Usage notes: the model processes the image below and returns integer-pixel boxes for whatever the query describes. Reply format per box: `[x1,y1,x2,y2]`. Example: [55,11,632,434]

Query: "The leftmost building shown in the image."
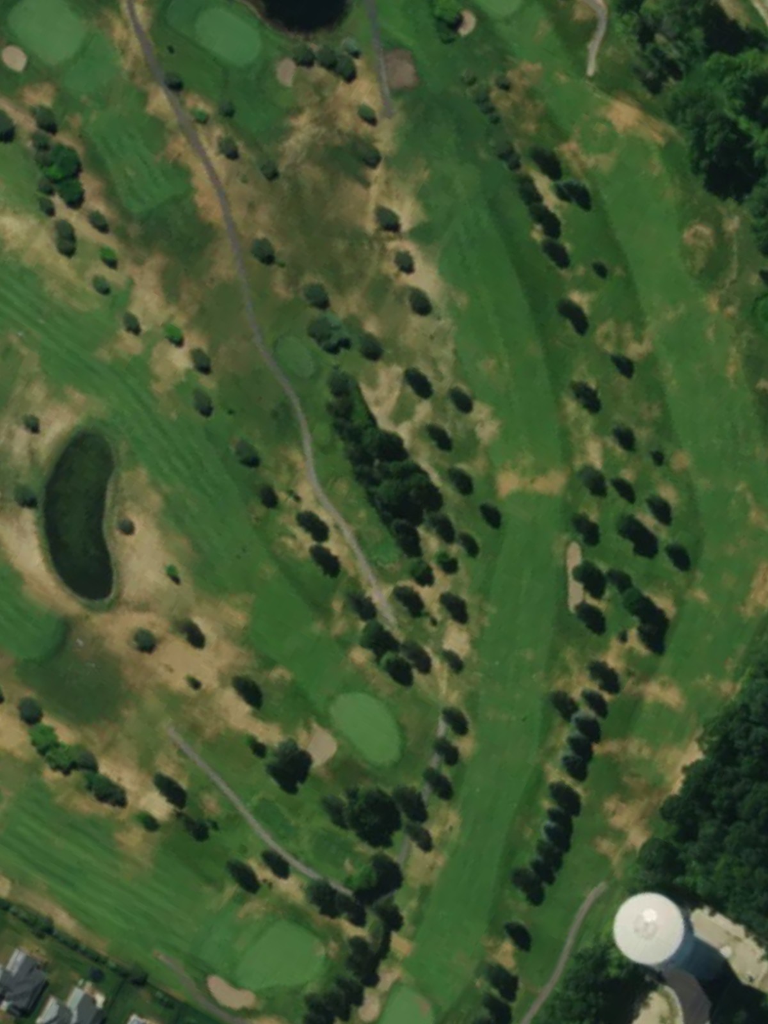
[0,947,48,1022]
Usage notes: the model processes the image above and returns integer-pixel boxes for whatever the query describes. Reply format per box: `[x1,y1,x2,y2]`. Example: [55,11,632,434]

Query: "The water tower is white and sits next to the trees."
[614,892,726,984]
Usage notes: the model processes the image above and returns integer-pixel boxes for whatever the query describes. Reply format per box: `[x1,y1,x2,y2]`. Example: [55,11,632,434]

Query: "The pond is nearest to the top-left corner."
[261,0,352,35]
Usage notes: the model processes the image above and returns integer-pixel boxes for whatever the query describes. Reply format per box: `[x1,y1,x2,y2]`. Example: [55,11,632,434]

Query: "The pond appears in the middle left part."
[44,427,116,601]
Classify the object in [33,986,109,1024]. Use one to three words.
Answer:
house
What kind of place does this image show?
golf course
